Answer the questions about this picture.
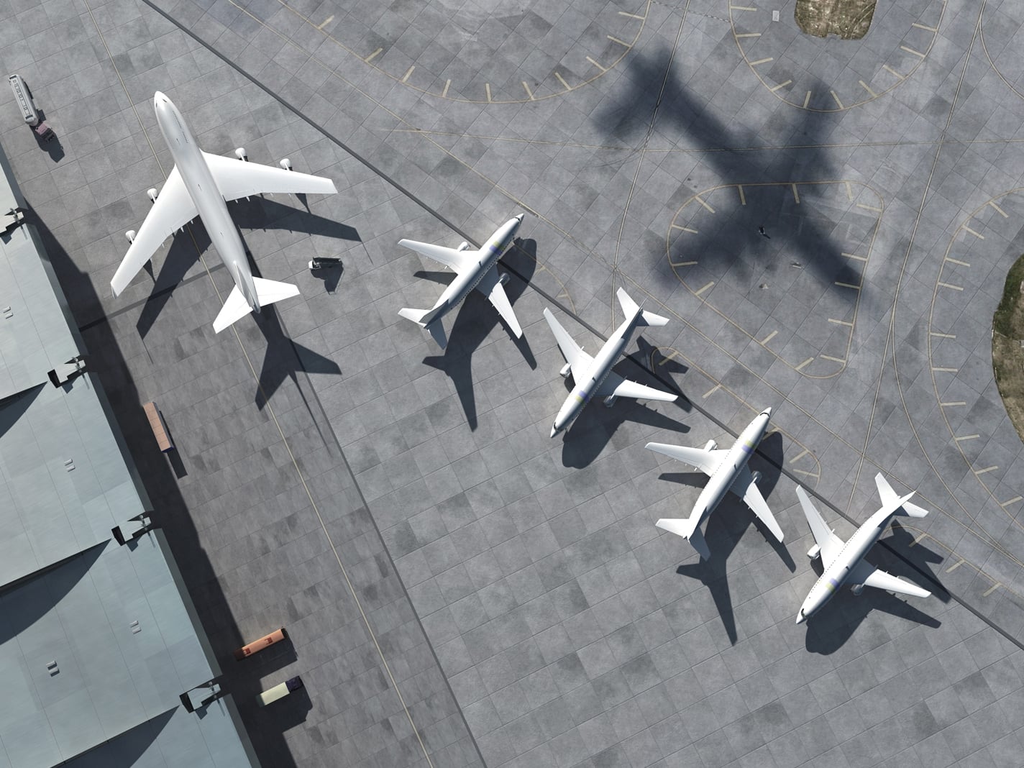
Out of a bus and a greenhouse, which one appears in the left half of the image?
bus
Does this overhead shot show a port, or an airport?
airport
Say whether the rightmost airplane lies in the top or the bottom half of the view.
bottom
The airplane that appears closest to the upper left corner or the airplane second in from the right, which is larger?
the airplane that appears closest to the upper left corner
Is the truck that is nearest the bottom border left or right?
left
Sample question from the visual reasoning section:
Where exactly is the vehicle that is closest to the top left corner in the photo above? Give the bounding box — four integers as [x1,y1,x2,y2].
[11,77,57,144]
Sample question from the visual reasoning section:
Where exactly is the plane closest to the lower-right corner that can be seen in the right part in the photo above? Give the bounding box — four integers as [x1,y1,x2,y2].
[797,477,933,623]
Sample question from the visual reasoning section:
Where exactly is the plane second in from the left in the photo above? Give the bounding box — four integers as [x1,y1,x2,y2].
[398,214,524,352]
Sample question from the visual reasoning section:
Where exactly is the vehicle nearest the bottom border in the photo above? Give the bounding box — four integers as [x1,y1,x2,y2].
[255,674,306,706]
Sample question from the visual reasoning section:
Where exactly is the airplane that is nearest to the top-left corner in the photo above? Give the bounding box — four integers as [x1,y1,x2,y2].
[114,92,340,336]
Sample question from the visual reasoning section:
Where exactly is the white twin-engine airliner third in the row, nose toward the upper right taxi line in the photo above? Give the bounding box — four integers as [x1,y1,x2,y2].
[646,407,788,562]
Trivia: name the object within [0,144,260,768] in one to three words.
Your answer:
hangar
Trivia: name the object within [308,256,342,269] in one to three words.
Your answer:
vehicle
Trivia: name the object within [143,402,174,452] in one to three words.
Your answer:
trailer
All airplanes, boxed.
[797,477,933,623]
[114,92,340,336]
[398,214,524,352]
[646,407,788,562]
[543,288,677,437]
